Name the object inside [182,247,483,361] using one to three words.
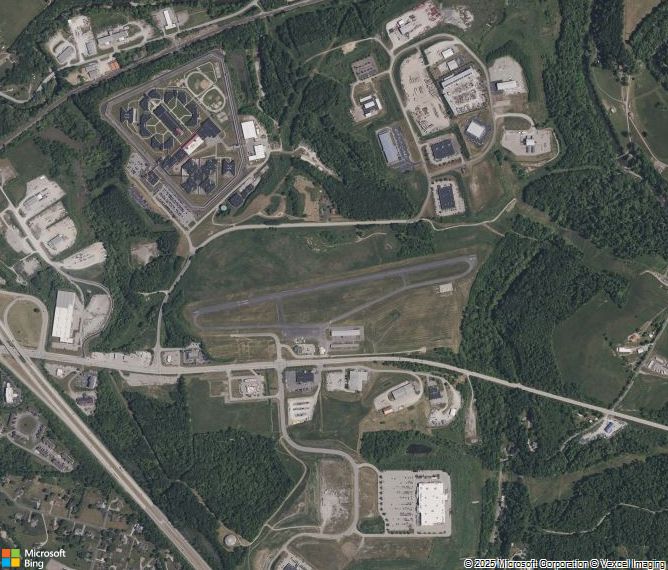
airport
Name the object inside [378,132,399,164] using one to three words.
building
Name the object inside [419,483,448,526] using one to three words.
building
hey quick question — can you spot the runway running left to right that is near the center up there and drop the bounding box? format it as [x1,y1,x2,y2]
[195,254,477,315]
